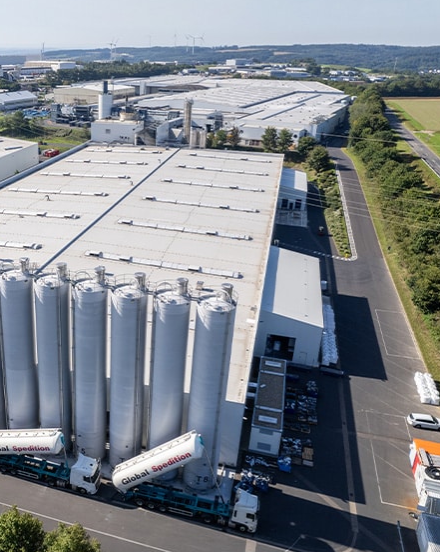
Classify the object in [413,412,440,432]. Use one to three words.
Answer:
car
